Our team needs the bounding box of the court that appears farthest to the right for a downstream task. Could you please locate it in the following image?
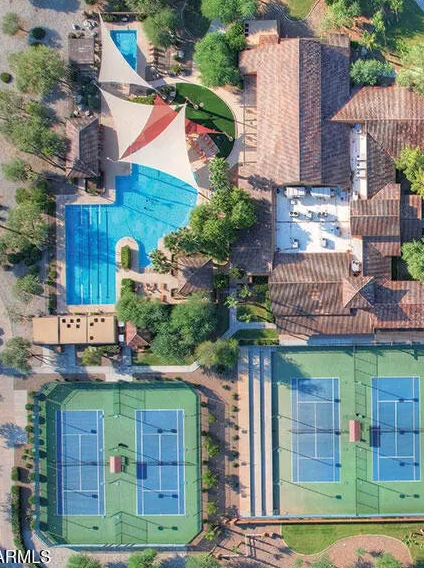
[356,345,424,518]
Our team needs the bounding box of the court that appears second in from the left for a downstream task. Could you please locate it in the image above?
[120,382,202,545]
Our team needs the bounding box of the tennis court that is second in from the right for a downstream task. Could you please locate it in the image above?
[273,346,356,518]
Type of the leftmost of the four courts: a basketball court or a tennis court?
tennis court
